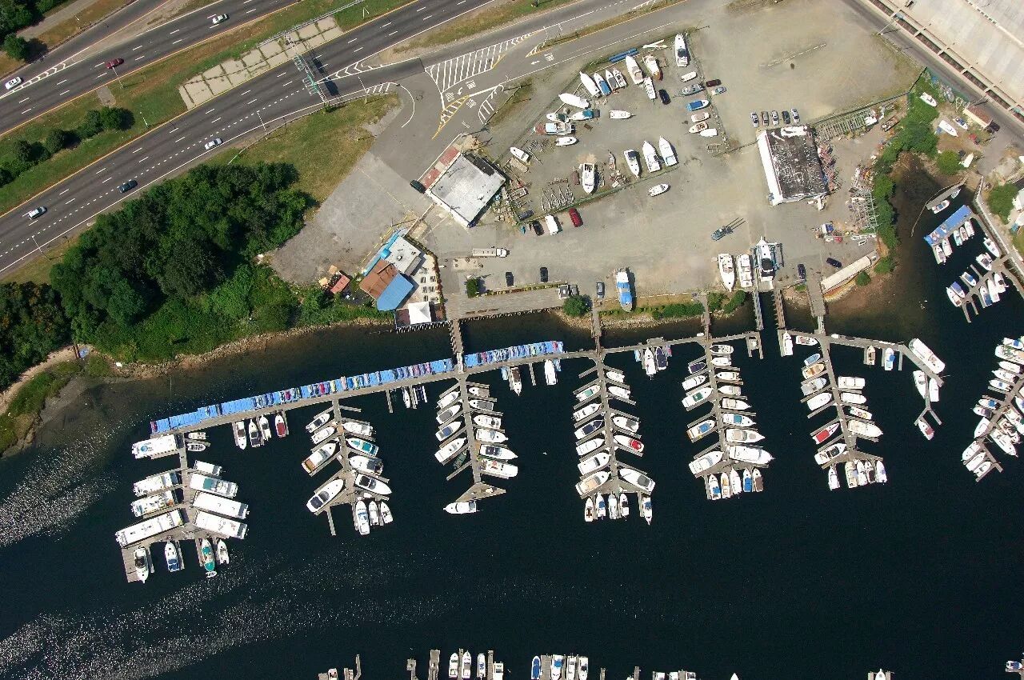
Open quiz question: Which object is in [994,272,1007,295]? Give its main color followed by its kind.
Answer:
white boat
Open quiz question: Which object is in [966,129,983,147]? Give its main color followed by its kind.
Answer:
red vehicle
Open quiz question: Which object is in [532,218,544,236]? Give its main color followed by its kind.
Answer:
black vehicle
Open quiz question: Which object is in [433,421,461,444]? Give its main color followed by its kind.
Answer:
white boat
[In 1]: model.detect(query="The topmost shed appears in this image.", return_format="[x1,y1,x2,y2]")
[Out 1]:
[963,105,992,129]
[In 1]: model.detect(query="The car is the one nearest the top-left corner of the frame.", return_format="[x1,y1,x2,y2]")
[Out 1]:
[4,76,23,90]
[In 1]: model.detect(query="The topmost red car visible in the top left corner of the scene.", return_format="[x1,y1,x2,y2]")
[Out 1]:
[105,56,124,70]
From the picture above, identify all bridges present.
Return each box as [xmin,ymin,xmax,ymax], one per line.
[868,0,1024,119]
